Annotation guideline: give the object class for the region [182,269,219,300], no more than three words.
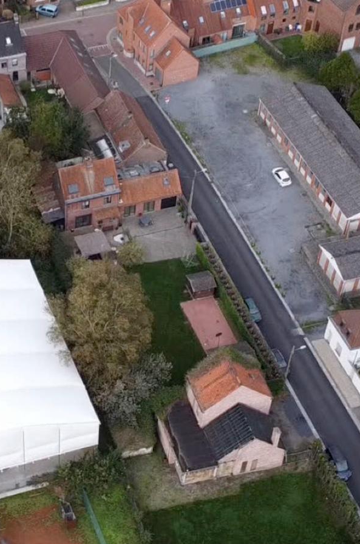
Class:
shed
